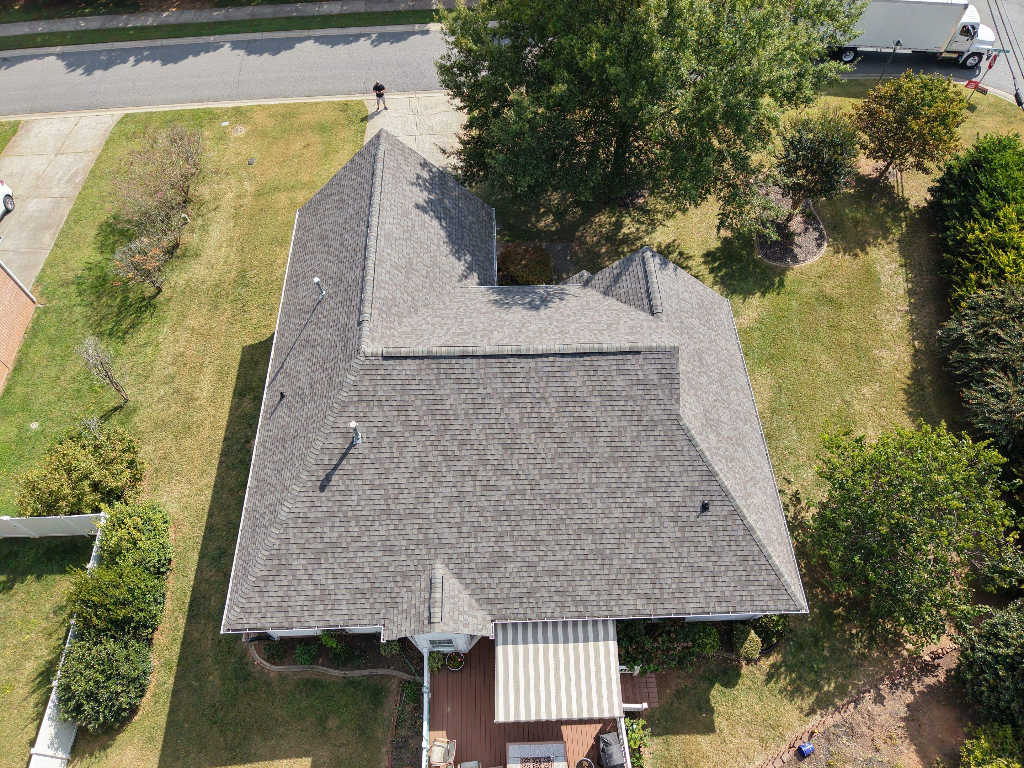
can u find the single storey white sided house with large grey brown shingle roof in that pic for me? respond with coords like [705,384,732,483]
[223,130,807,657]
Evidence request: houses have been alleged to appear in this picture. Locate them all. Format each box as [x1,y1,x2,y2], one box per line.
[223,130,807,657]
[0,259,37,392]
